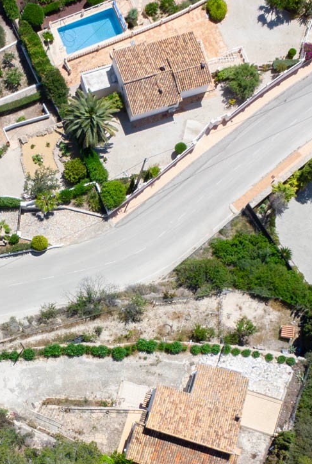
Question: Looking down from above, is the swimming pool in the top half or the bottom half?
top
